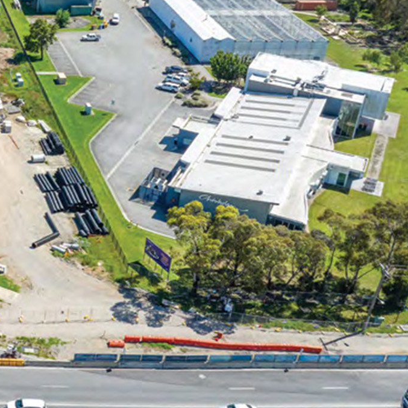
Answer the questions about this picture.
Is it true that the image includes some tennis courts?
No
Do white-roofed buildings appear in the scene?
Yes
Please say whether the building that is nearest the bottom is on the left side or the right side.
right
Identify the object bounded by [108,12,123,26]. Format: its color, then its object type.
white vehicle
